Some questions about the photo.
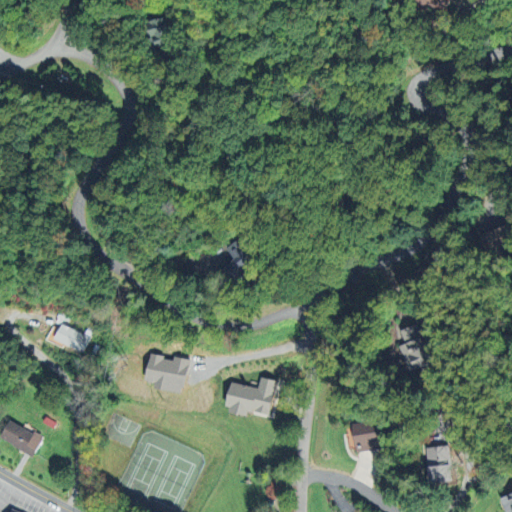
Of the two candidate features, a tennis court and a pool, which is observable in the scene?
tennis court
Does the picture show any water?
No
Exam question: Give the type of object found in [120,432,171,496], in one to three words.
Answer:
tennis court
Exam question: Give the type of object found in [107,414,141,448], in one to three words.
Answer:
basketball court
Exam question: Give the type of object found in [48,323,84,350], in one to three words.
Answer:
house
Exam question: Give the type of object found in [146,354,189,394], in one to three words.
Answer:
house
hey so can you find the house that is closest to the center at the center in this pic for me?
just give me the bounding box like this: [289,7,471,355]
[226,242,248,272]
